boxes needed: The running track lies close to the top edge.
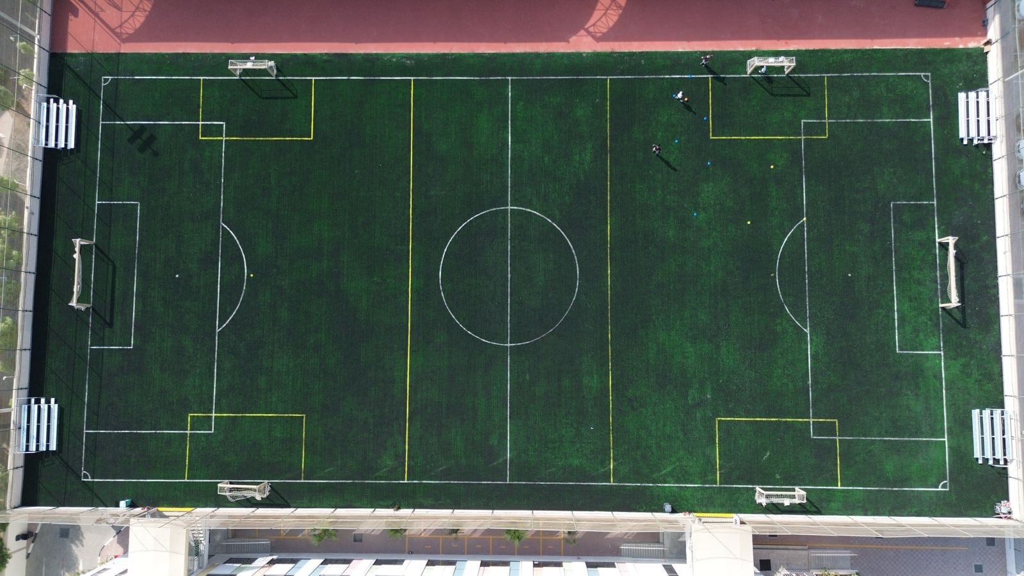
[51,0,985,51]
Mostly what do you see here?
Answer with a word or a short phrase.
grass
